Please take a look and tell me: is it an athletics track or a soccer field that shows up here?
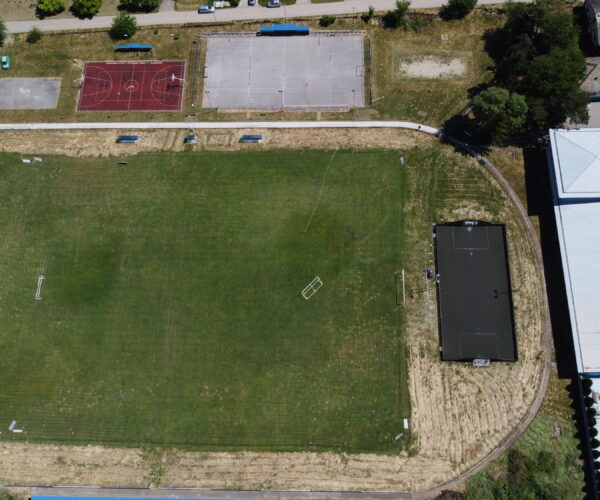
soccer field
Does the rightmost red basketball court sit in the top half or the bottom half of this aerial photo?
top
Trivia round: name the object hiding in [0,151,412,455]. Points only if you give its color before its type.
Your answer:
green soccer field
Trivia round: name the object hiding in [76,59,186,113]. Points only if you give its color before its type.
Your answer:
red basketball court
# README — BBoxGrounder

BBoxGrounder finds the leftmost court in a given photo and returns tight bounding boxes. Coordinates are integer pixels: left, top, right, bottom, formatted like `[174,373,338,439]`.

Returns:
[0,77,62,109]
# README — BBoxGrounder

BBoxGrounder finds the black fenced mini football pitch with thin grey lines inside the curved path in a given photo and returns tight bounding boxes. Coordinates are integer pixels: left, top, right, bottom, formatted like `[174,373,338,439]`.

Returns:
[435,224,517,360]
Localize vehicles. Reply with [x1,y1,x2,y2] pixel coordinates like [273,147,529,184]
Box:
[197,6,214,15]
[213,0,224,9]
[472,360,491,369]
[0,56,9,70]
[266,1,281,9]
